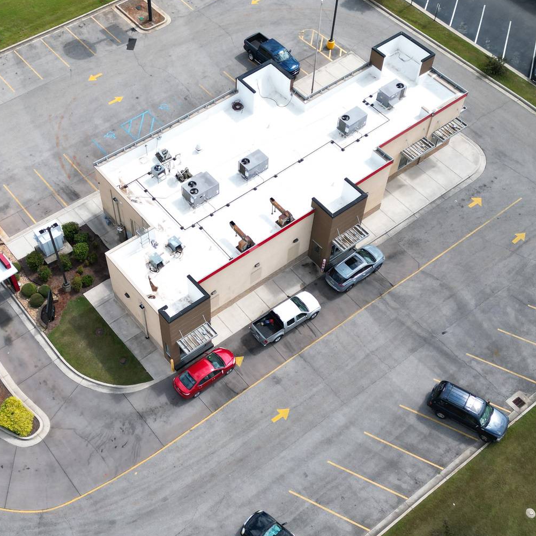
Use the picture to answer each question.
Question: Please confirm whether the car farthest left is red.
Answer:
Yes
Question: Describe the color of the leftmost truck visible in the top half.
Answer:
blue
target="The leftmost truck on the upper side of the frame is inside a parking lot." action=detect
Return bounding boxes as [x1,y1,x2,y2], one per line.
[241,31,297,74]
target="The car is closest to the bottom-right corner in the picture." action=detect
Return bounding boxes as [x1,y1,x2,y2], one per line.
[429,382,510,445]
